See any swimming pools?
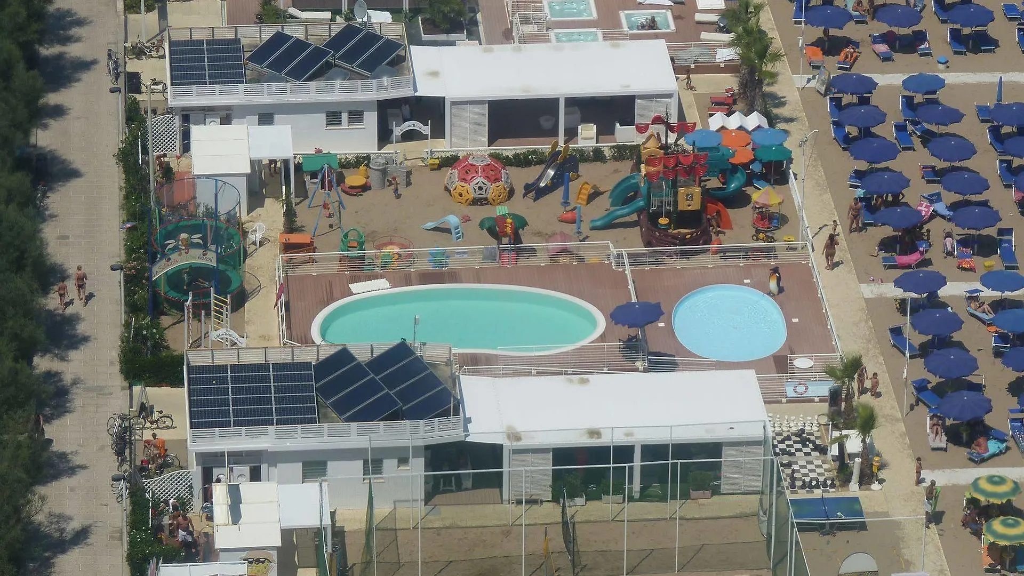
Yes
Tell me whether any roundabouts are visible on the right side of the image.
No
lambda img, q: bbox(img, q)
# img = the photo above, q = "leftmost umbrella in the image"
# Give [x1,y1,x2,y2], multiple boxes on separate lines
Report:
[610,299,667,365]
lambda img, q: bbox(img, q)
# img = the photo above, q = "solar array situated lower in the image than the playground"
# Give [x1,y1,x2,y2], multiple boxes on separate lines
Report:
[189,353,318,433]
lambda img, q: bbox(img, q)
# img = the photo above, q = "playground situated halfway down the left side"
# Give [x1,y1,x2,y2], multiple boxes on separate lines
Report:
[242,178,284,351]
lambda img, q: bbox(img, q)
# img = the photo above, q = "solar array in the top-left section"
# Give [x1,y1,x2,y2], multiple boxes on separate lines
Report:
[172,33,246,88]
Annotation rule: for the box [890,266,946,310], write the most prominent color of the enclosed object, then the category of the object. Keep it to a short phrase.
blue umbrella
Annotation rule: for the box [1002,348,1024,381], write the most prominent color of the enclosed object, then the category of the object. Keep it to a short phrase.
blue umbrella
